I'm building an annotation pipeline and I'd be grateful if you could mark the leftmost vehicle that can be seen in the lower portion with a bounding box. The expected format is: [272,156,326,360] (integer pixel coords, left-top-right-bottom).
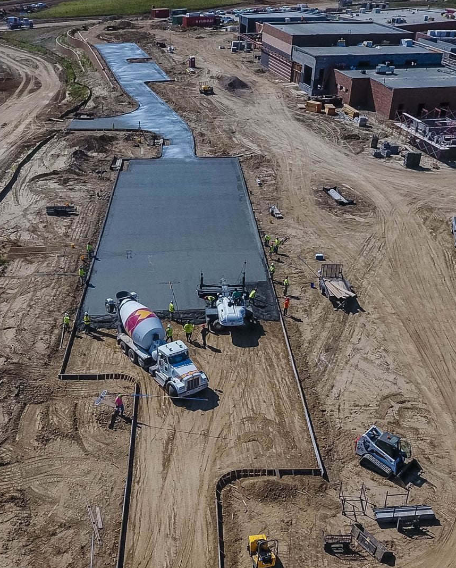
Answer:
[99,293,212,403]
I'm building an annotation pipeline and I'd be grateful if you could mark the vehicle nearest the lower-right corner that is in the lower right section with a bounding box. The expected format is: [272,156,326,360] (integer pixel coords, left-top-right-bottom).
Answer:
[358,428,427,496]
